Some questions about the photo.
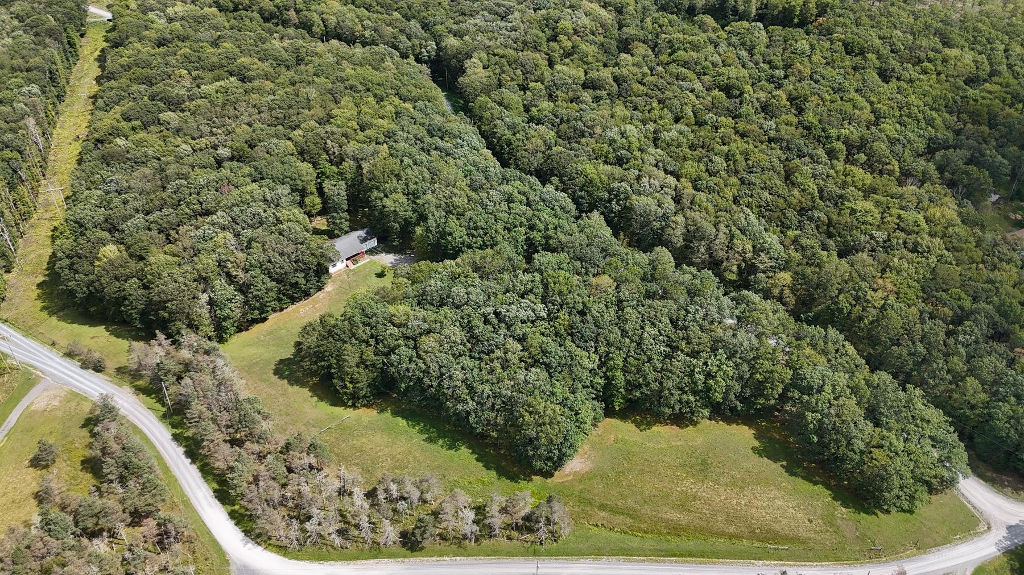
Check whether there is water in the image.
No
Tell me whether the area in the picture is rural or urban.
rural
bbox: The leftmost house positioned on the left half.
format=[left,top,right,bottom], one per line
[326,227,379,273]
